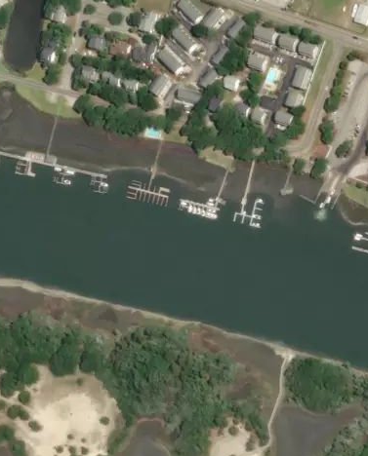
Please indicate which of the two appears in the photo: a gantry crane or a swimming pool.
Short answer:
swimming pool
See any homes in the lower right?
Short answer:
No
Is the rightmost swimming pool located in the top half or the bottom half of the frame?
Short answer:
top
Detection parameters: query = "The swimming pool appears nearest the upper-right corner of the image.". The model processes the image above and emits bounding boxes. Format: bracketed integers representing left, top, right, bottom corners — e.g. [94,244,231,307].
[261,63,285,91]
